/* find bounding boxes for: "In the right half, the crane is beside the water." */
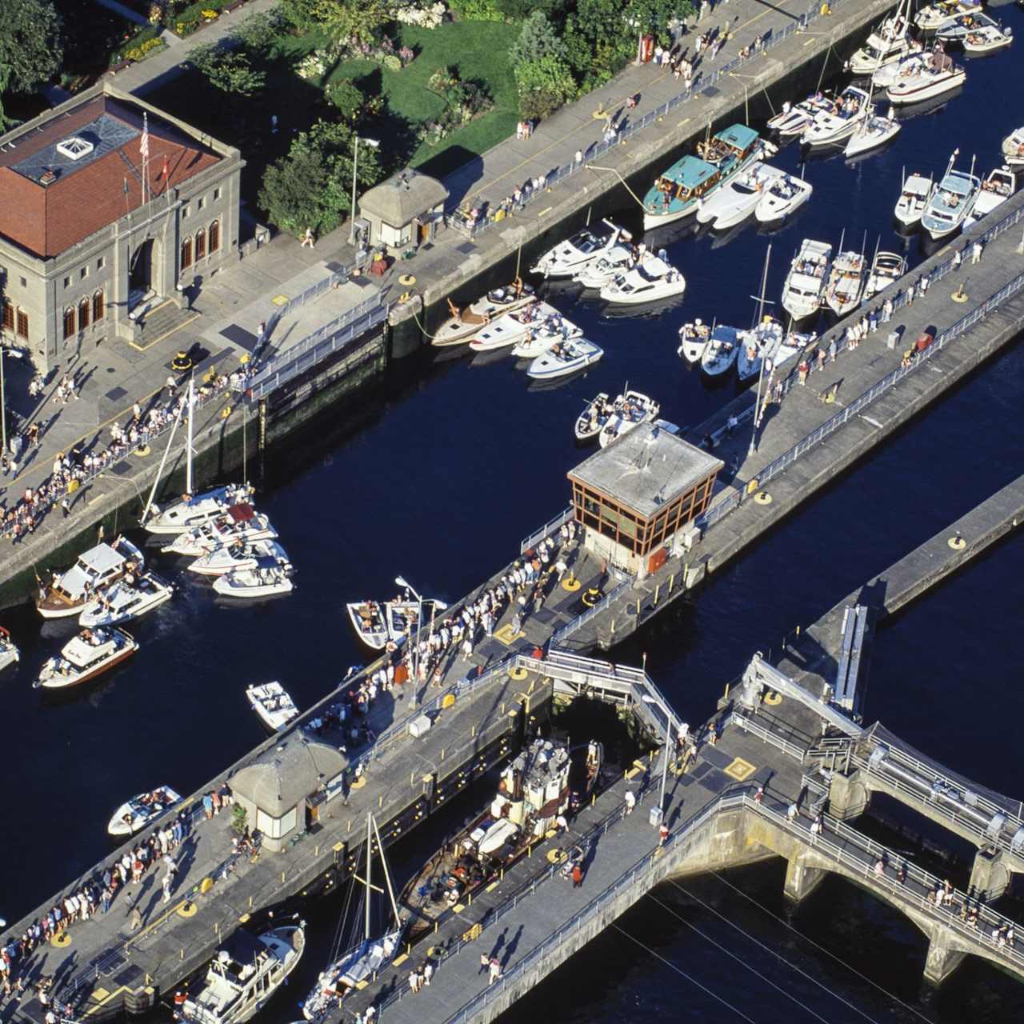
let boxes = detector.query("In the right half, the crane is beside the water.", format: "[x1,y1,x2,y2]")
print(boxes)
[738,650,868,750]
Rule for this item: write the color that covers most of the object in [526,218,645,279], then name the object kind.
white boat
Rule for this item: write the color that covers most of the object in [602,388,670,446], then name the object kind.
white boat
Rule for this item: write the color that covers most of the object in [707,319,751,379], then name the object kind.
blue boat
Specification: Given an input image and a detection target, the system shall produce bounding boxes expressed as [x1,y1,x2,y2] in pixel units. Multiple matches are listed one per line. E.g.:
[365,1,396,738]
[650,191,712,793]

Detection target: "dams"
[825,739,1024,916]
